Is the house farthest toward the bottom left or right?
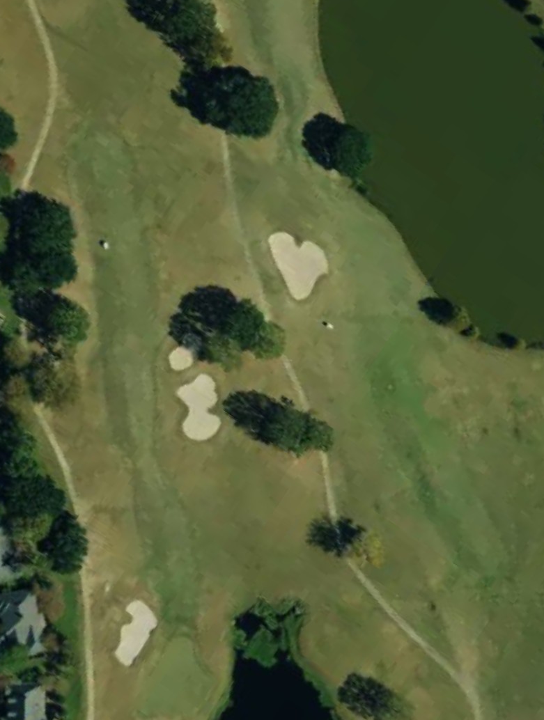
left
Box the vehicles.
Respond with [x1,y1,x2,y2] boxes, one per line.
[102,241,109,250]
[325,322,334,330]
